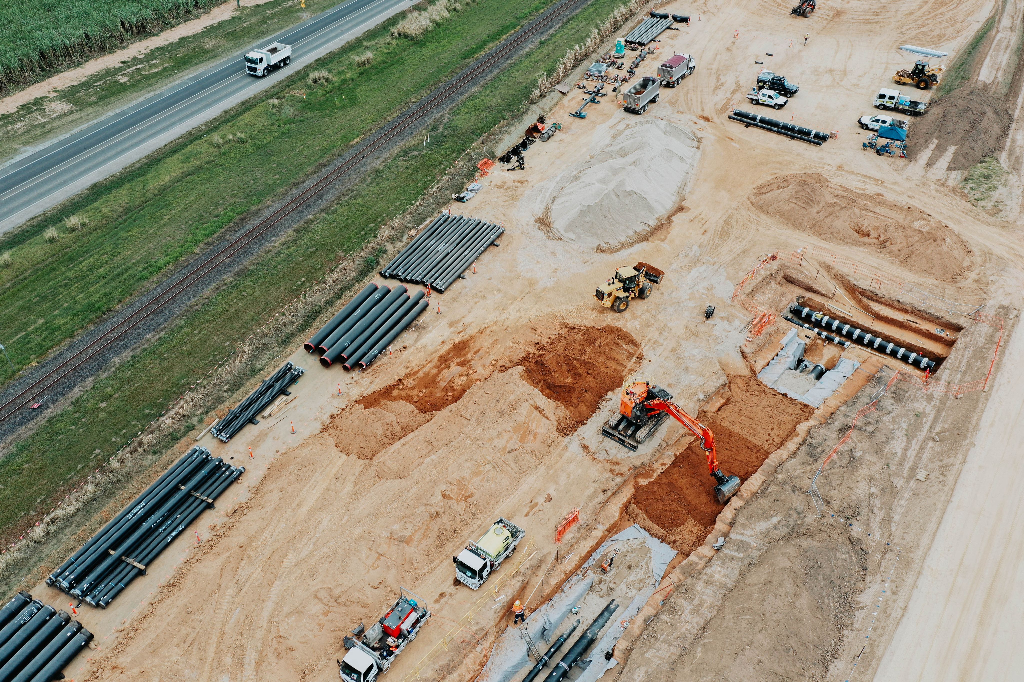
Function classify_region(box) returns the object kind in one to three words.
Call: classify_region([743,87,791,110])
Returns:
truck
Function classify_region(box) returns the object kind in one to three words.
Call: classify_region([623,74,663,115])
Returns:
trailer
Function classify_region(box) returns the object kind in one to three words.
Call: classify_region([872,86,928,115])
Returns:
truck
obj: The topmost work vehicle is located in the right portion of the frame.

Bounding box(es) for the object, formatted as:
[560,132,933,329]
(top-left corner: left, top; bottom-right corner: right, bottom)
[792,0,816,21]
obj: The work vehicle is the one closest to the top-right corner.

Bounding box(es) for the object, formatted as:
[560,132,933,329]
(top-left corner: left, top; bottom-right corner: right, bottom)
[893,61,942,90]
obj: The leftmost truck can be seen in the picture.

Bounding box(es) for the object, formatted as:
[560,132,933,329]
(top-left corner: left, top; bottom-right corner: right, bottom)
[239,42,291,75]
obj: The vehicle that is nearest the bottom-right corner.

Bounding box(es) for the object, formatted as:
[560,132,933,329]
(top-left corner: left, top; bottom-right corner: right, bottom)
[594,363,736,504]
